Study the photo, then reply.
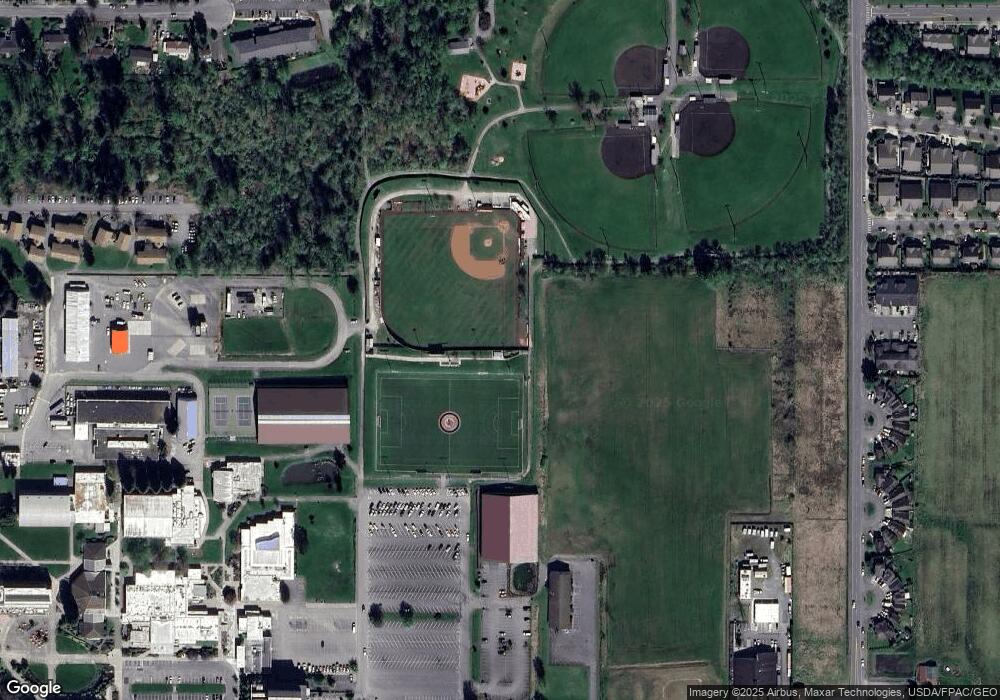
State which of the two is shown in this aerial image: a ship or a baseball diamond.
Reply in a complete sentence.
Looking from above, you can make out a baseball diamond.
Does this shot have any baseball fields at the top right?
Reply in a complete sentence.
Yes, a baseball field is visible at the top right.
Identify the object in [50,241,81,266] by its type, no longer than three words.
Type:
house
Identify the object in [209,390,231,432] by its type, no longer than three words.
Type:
tennis court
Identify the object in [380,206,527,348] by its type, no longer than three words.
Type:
baseball field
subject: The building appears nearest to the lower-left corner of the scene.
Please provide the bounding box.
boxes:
[0,581,52,614]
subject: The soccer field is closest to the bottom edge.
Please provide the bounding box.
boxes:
[366,361,528,474]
